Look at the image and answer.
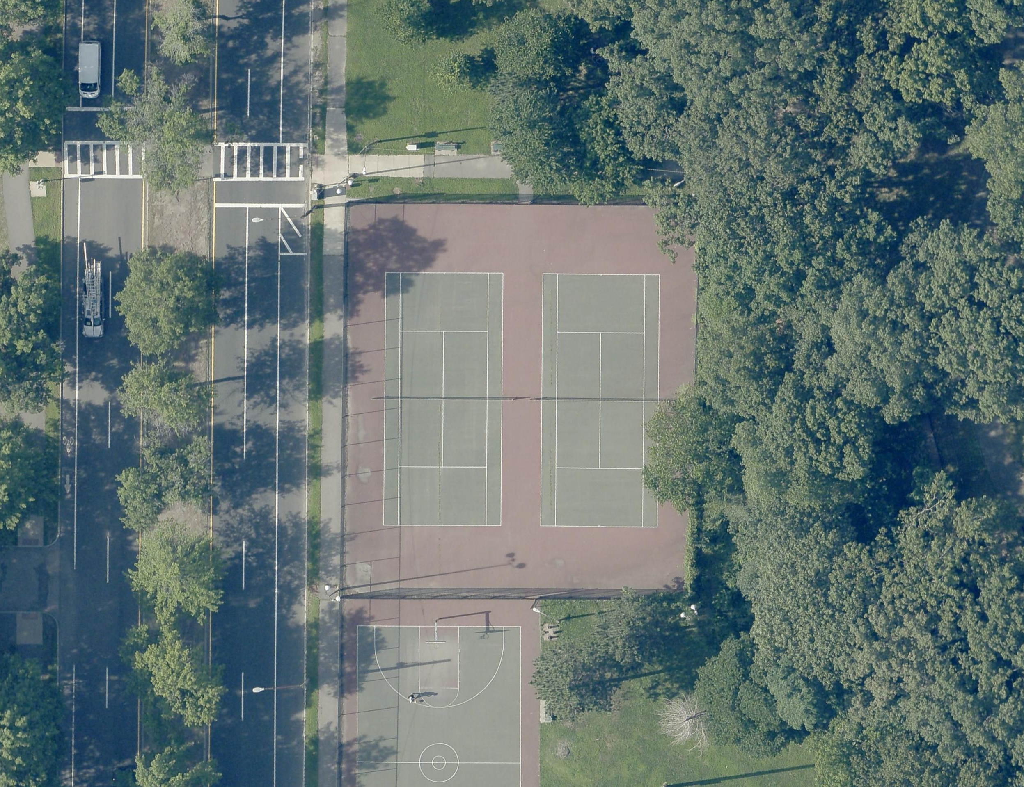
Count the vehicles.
2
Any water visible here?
No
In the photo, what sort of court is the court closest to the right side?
tennis court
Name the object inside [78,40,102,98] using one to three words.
vehicle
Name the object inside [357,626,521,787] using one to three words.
basketball court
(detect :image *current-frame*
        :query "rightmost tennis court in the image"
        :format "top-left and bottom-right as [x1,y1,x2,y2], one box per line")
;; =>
[540,262,660,527]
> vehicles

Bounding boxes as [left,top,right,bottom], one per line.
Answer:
[78,40,102,98]
[81,278,105,338]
